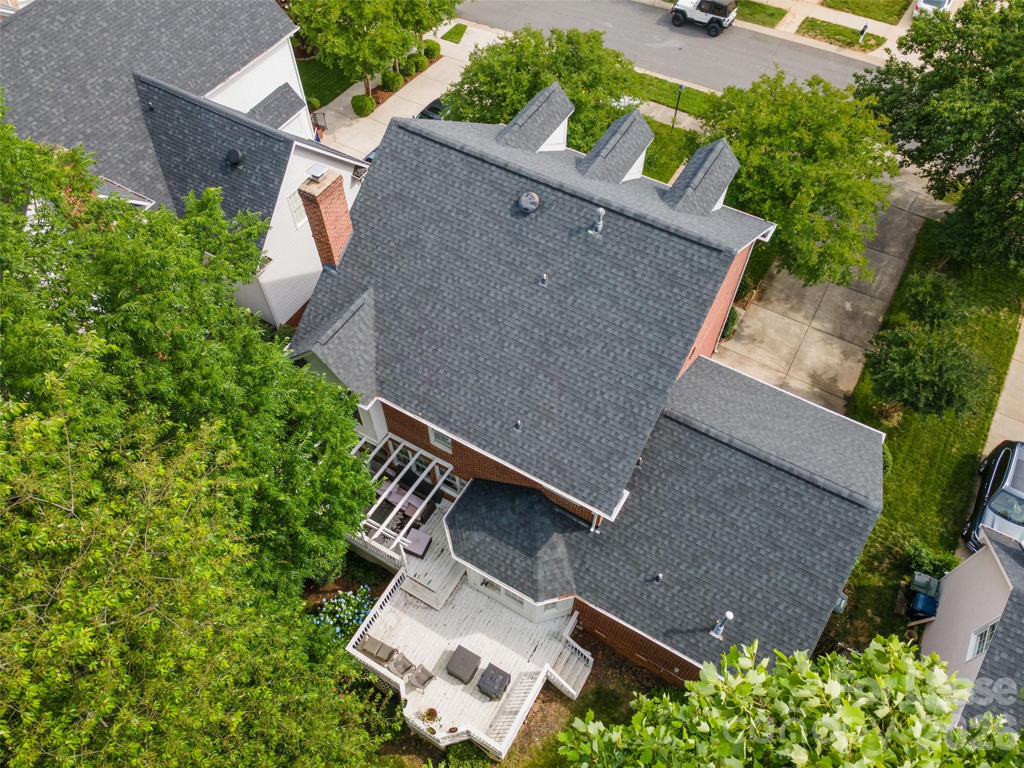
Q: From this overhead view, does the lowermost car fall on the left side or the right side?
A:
right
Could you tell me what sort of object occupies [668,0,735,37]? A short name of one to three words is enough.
car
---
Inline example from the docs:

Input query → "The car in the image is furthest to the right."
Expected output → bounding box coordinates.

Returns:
[966,444,1024,544]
